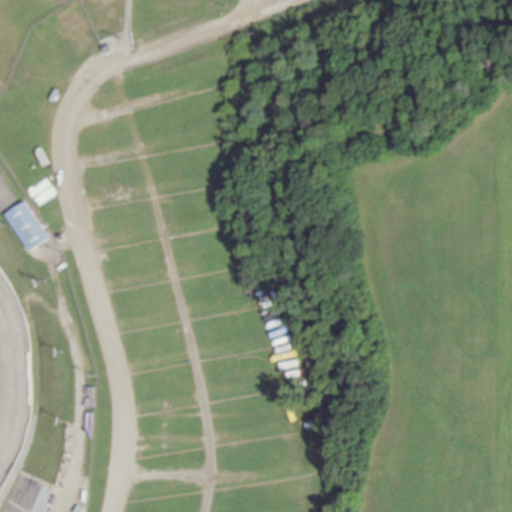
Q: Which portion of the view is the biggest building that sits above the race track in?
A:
left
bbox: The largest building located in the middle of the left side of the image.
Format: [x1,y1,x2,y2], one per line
[4,200,49,251]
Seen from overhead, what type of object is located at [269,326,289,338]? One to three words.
vehicle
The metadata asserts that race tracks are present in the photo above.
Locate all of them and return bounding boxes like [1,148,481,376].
[0,263,32,492]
